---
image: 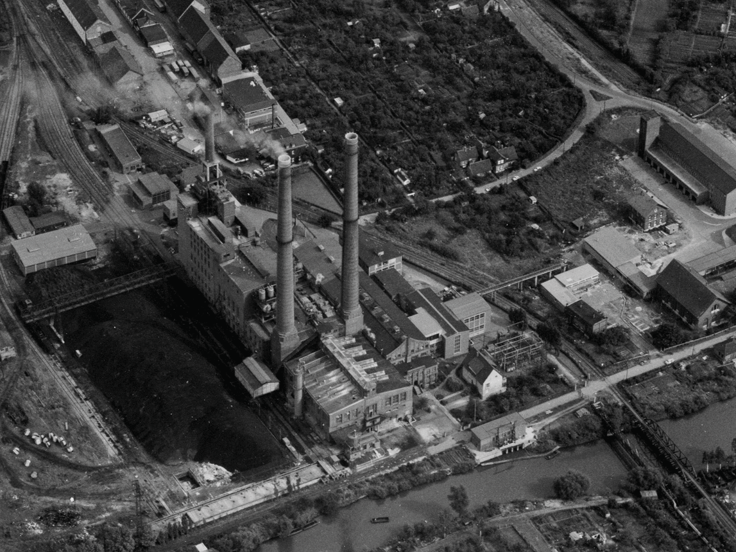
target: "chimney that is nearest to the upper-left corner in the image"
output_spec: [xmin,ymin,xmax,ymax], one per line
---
[198,108,225,187]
